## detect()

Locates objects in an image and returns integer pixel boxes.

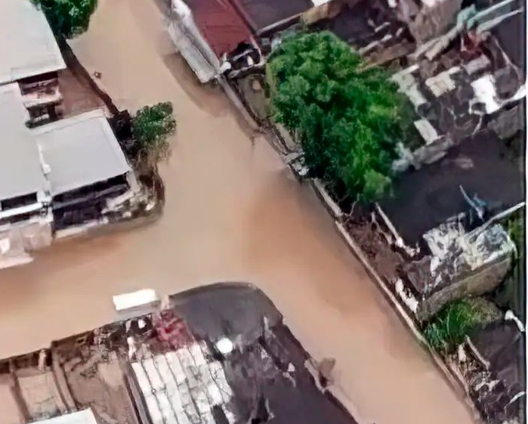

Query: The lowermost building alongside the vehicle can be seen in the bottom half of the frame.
[171,282,283,389]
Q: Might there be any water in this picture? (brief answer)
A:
Yes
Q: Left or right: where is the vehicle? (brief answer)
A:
left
